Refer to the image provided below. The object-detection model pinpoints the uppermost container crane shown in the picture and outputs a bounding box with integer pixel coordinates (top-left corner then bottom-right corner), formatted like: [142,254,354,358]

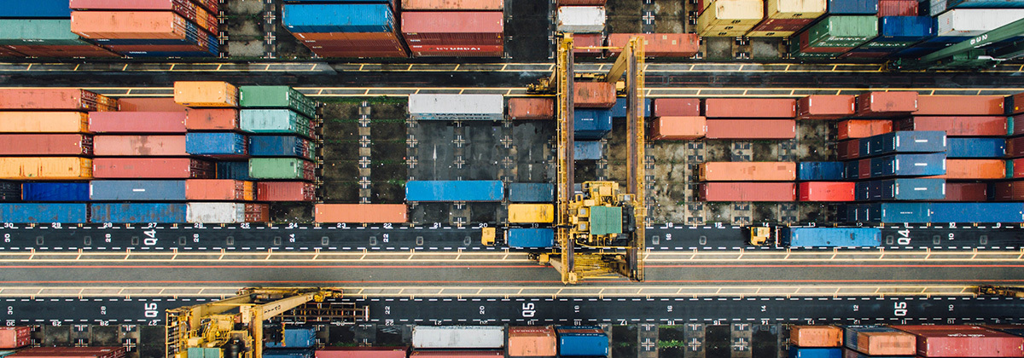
[887,9,1024,71]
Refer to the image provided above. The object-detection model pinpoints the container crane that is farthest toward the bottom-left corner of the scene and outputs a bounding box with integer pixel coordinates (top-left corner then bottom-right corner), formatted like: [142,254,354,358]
[163,284,338,358]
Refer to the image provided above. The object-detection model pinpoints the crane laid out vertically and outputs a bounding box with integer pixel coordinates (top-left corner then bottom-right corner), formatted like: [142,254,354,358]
[528,32,649,286]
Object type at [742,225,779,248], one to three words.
truck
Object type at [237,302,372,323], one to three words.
truck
